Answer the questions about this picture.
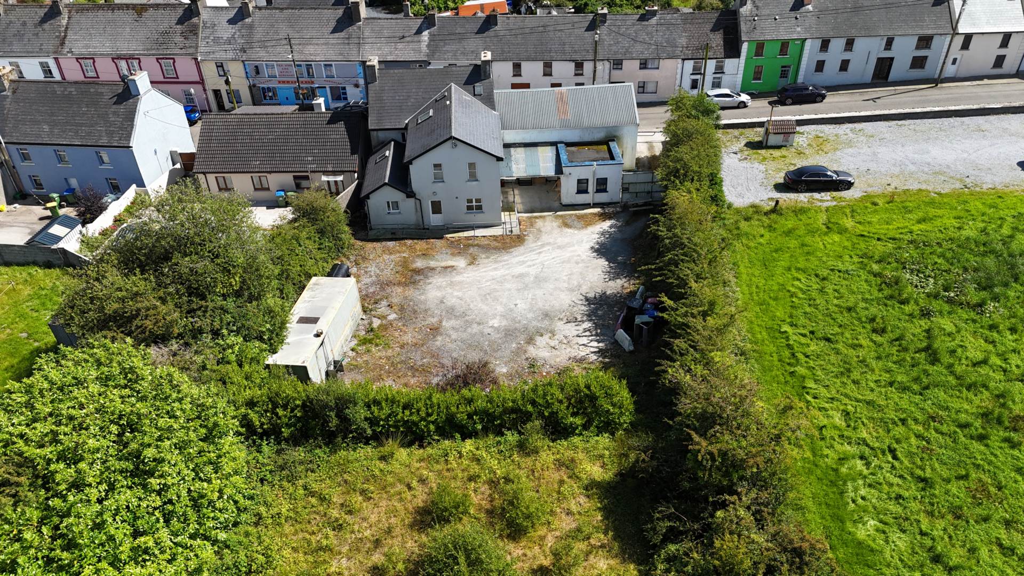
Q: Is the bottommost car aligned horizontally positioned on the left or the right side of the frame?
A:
right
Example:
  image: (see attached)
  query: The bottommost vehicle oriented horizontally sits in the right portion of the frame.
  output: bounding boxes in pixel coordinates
[786,164,857,192]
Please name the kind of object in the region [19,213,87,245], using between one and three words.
shed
